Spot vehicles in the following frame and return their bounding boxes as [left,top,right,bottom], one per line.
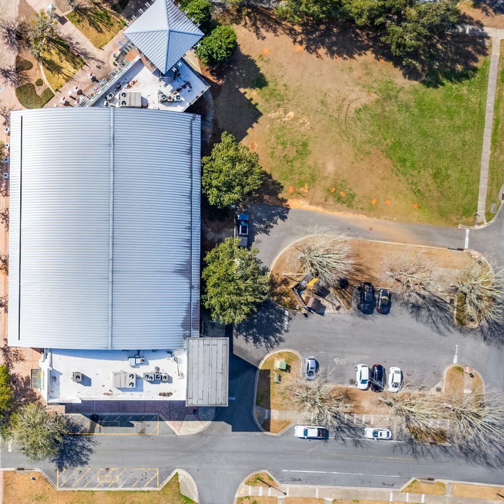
[386,367,401,393]
[304,356,319,381]
[235,212,250,247]
[364,428,392,441]
[370,364,385,392]
[358,283,374,314]
[355,363,369,391]
[376,288,391,314]
[295,425,328,440]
